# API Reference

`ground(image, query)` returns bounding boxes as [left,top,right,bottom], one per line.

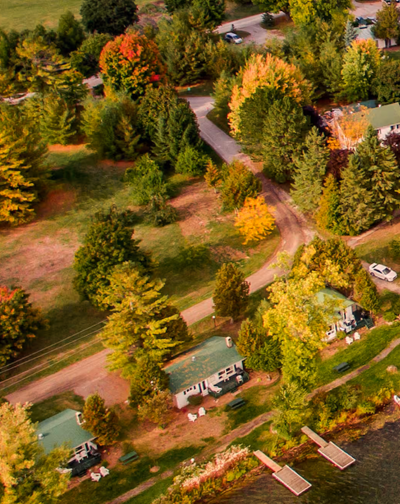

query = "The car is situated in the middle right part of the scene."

[364,263,398,284]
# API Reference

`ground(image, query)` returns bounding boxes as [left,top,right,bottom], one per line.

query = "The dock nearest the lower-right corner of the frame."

[315,437,358,473]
